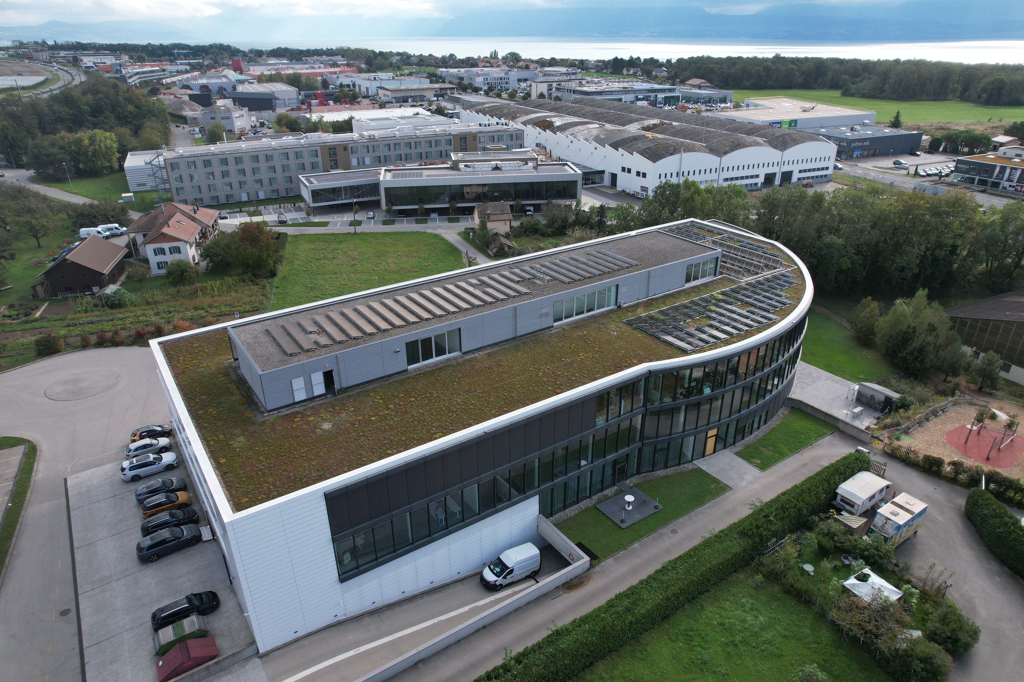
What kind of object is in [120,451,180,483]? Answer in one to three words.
car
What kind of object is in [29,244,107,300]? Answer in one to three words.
barn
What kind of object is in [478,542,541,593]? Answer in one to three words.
van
